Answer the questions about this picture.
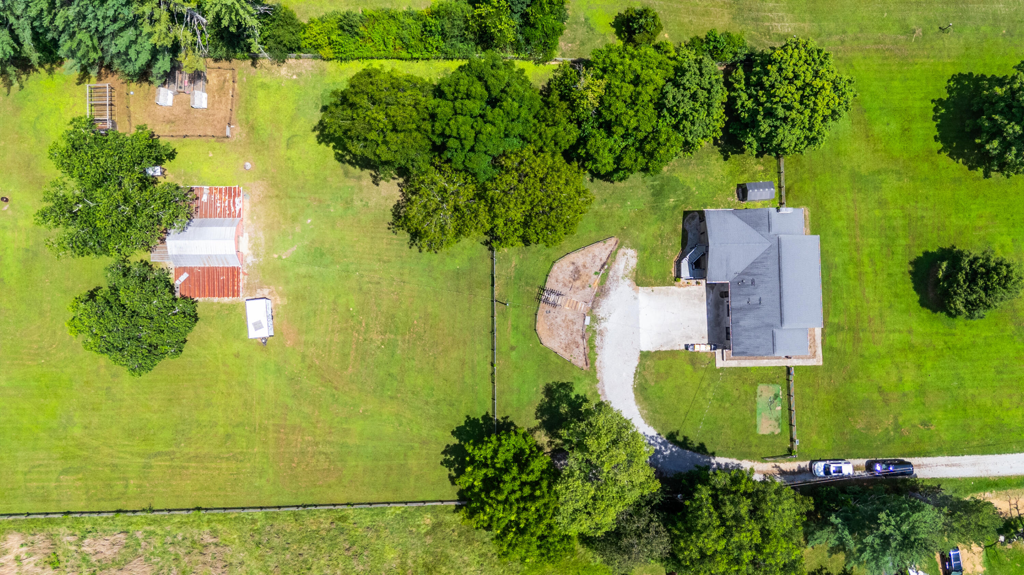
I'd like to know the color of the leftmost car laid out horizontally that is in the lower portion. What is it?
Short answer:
white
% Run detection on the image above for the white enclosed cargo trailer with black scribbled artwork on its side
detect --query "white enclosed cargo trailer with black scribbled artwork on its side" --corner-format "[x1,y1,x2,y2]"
[245,298,275,348]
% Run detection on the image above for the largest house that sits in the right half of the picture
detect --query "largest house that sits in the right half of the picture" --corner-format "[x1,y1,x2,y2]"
[698,203,821,357]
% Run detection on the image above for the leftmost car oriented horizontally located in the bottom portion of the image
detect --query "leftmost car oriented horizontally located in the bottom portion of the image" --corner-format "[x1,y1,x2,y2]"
[811,460,855,480]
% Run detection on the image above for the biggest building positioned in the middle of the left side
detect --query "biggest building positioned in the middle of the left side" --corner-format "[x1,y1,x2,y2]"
[150,185,245,298]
